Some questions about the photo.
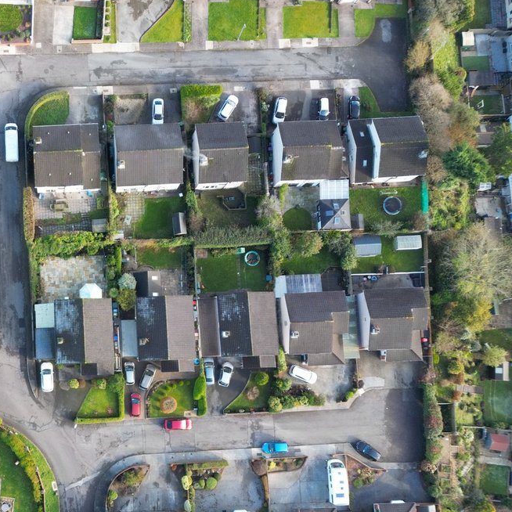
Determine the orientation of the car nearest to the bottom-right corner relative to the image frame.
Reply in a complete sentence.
From this overhead view, the car nearest to the bottom-right corner appears to run diagonally.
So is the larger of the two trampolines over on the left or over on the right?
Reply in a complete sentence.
You can find the larger of the two trampolines on the right side of the picture.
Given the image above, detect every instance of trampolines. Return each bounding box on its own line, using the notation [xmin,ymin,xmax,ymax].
[243,250,261,265]
[381,195,406,216]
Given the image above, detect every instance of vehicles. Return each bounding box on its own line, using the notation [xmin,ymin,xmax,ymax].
[41,363,54,391]
[123,362,135,385]
[273,98,286,122]
[325,456,348,506]
[164,418,192,432]
[316,96,330,120]
[355,439,381,462]
[139,363,157,392]
[152,98,164,123]
[130,393,142,417]
[263,443,287,455]
[217,95,238,122]
[4,126,19,161]
[203,360,216,384]
[288,364,317,384]
[218,362,233,386]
